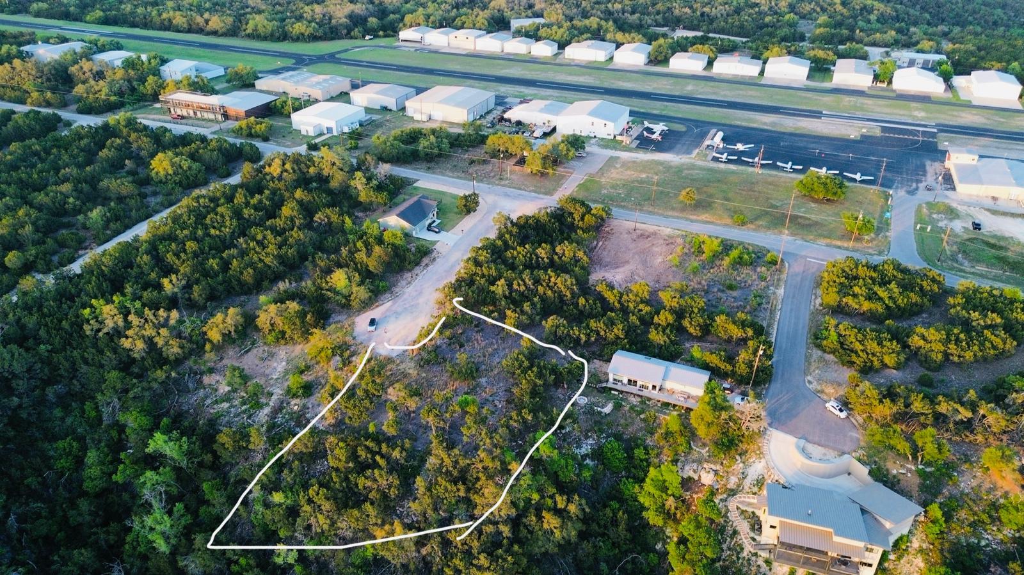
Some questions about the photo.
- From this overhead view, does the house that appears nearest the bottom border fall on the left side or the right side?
right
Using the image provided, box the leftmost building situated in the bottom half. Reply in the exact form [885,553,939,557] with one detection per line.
[601,351,707,419]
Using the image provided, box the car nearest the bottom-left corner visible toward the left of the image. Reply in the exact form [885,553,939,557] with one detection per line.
[366,316,379,331]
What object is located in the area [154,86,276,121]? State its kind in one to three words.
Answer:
building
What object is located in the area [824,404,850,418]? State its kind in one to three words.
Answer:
car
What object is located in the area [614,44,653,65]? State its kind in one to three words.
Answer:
hangar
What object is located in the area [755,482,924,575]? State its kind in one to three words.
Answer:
house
